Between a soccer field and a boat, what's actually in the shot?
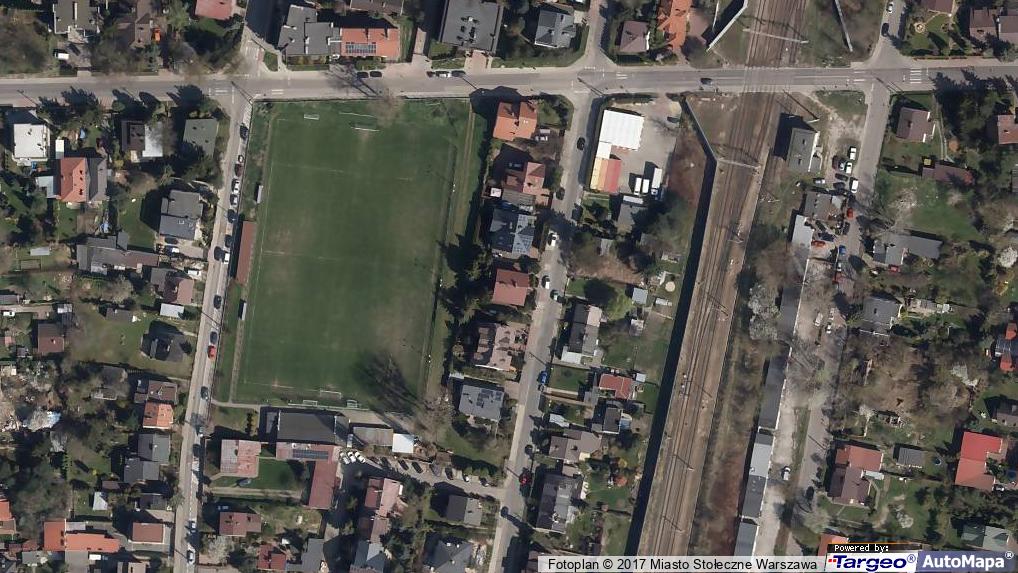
soccer field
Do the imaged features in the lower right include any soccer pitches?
No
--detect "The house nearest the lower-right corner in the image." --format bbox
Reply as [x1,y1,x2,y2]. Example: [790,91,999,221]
[961,525,1011,549]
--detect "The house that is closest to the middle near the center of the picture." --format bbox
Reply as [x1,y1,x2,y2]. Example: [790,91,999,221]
[492,269,529,306]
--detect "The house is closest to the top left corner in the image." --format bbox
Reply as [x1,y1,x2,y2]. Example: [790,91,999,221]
[55,0,99,37]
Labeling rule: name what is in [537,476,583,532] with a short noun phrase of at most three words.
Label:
house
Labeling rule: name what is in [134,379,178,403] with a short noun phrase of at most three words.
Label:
house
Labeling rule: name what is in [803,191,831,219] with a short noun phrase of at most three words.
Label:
building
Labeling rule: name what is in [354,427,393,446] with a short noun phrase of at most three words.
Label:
shed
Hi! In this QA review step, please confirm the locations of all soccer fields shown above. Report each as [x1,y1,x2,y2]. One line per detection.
[239,113,448,407]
